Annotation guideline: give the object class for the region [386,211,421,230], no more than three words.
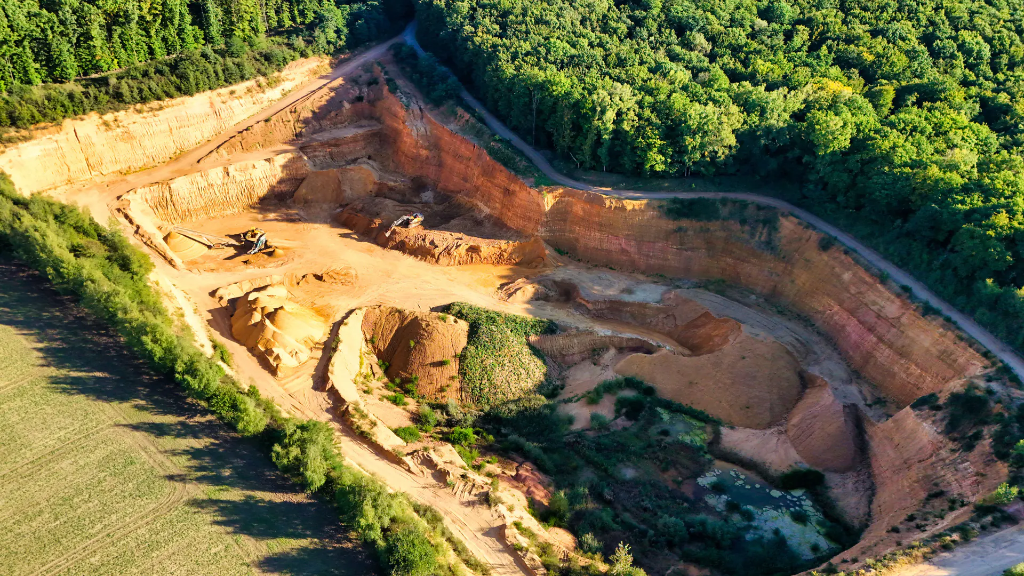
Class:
work vehicle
